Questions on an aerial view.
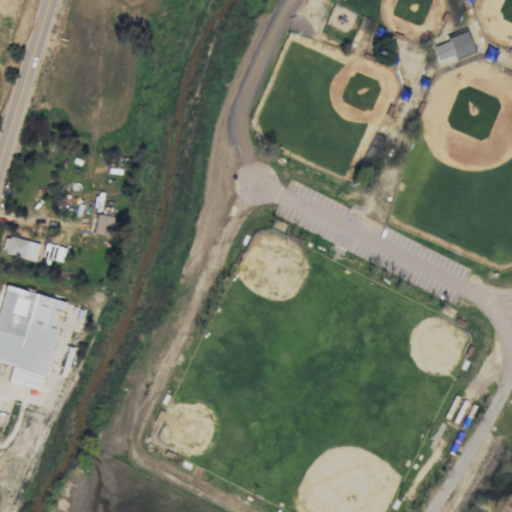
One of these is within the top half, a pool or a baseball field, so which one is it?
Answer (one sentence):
The one visible within the top half is a baseball field.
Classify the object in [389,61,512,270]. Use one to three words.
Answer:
baseball field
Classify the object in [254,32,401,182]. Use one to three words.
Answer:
baseball field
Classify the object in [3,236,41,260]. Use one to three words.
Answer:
house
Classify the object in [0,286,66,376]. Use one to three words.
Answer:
building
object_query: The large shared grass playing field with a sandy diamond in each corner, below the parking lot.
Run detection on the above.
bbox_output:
[154,229,470,512]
